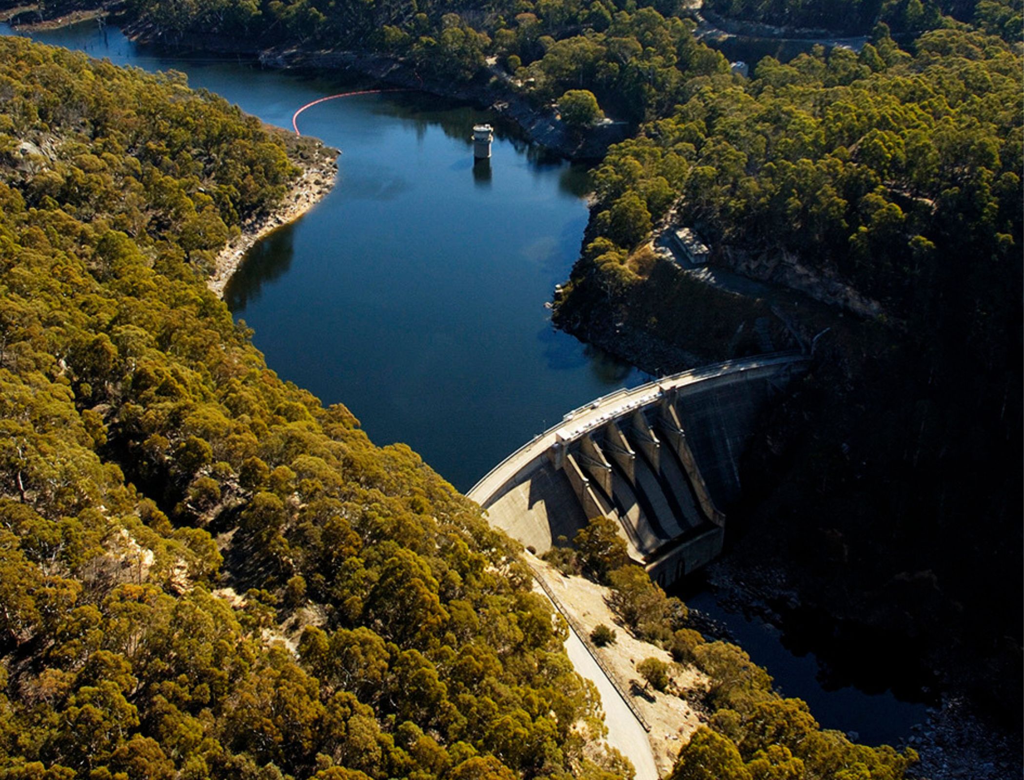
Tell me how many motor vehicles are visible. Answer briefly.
zero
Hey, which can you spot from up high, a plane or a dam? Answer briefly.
dam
